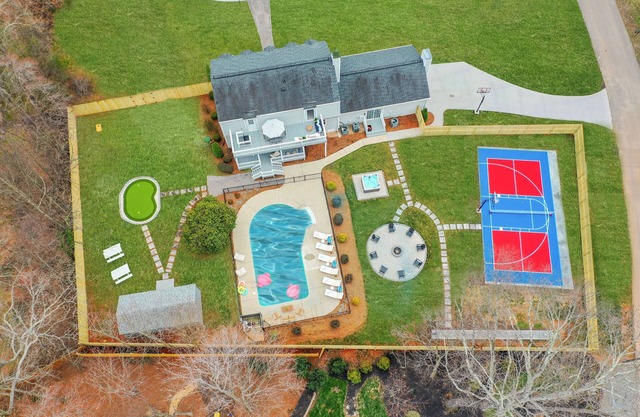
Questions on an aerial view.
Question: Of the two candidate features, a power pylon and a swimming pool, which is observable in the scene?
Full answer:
There is a swimming pool in the scene.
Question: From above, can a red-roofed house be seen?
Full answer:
No, I can't see a single red-roofed house in this photo.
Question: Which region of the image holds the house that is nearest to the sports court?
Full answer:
You can find the house that is nearest to the sports court in the top area of the picture.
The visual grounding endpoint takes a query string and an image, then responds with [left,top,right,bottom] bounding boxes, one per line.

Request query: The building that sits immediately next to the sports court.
[209,40,434,143]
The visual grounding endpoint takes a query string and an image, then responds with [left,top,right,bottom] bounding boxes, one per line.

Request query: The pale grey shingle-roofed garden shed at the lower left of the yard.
[115,284,202,334]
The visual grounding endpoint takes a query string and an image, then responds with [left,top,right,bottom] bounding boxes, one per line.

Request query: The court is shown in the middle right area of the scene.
[477,148,574,290]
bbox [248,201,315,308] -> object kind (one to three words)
swimming pool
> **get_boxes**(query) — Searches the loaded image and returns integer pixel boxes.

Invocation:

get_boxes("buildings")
[209,40,434,143]
[115,284,202,334]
